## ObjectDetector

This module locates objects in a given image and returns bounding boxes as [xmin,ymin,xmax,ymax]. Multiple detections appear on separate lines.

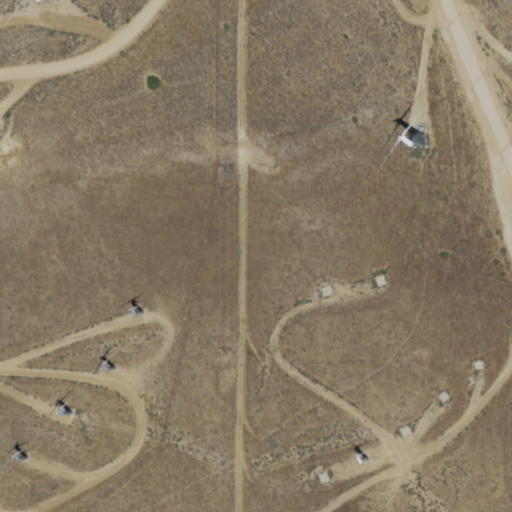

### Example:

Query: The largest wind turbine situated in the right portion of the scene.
[384,107,428,158]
